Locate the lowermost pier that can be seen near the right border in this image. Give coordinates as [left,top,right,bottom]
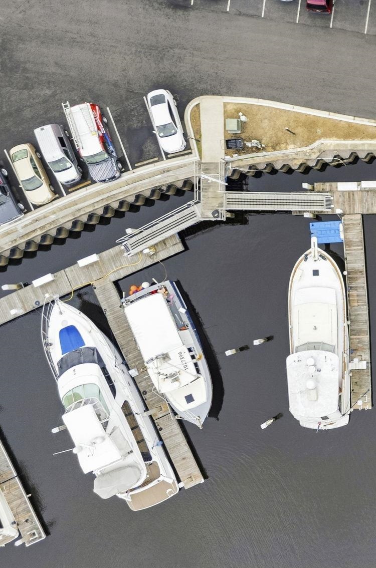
[342,214,375,410]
